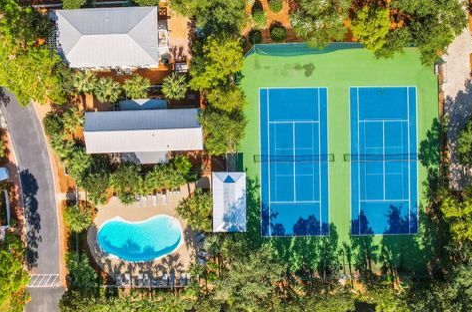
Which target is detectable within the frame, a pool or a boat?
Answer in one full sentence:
This aerial view contains a pool.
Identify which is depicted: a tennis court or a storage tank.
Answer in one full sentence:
Looking from above, you can make out a tennis court.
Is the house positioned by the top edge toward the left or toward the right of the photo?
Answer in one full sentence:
The house positioned by the top edge sits on the left side.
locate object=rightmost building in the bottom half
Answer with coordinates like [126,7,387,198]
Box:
[213,172,246,232]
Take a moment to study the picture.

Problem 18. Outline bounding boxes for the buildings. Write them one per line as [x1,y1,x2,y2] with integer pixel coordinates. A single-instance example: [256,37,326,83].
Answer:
[78,101,203,164]
[213,172,246,232]
[56,8,173,71]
